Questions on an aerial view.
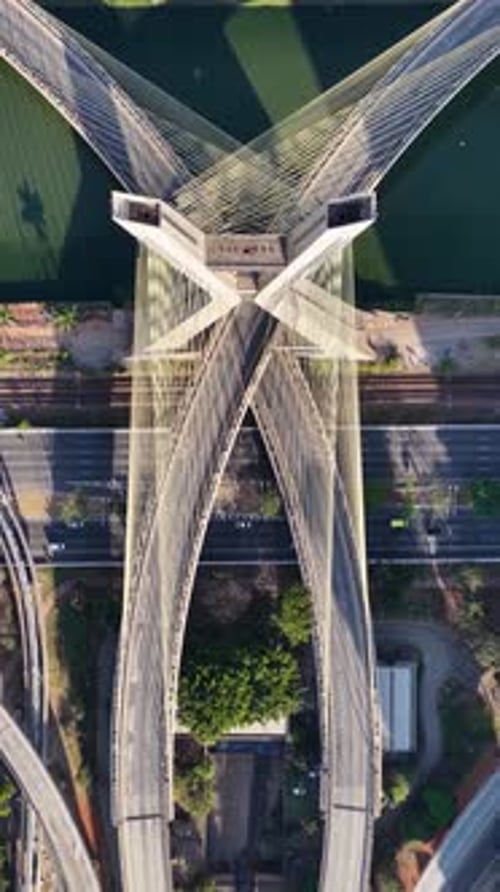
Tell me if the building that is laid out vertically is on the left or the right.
right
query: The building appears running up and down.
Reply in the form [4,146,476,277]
[376,660,416,753]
